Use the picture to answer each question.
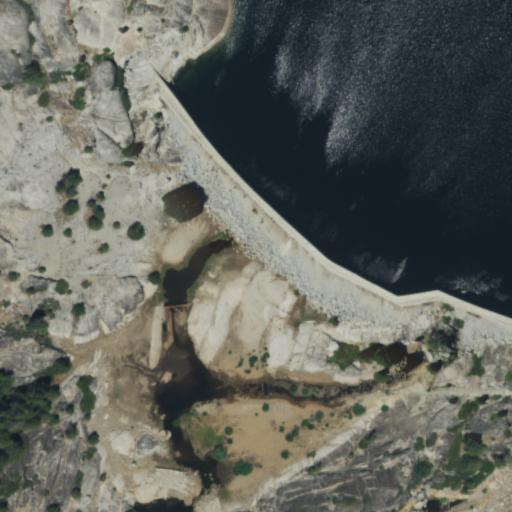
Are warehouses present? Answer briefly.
No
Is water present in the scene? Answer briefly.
Yes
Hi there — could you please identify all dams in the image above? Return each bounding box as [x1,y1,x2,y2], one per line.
[150,67,512,352]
